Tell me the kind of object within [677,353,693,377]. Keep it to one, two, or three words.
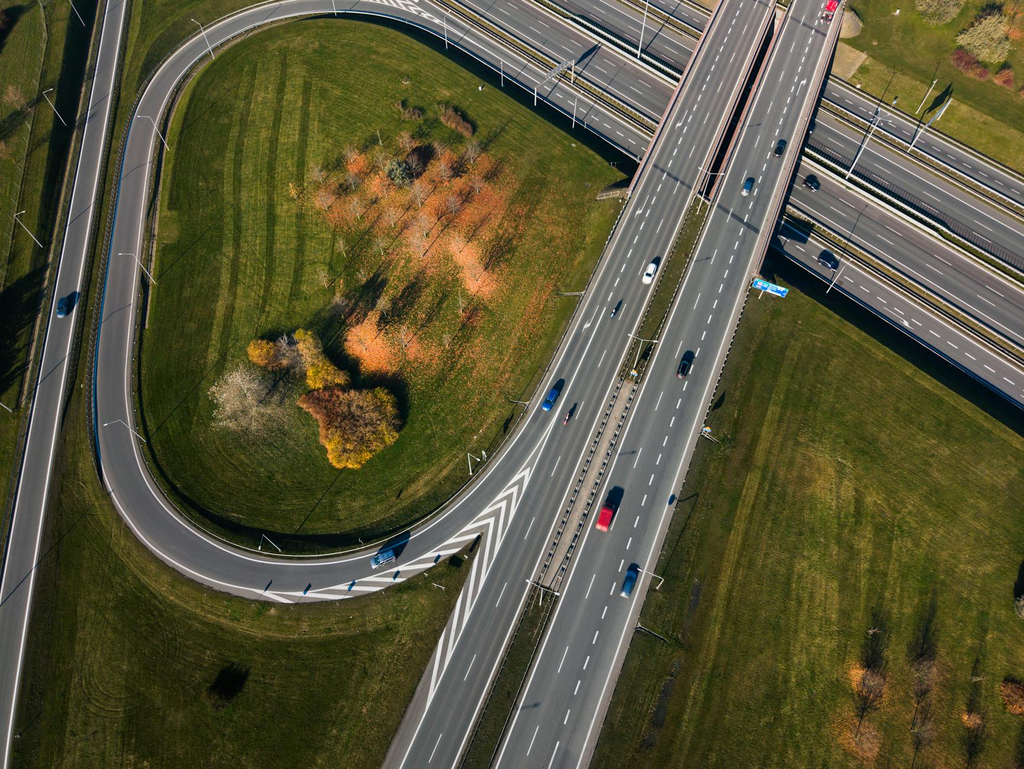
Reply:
car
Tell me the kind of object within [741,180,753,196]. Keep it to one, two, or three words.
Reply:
vehicle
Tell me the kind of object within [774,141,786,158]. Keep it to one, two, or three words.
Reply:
vehicle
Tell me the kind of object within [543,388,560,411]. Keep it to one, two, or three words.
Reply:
car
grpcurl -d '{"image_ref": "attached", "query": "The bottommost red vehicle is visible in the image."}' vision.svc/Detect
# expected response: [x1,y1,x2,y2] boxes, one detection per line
[594,500,615,533]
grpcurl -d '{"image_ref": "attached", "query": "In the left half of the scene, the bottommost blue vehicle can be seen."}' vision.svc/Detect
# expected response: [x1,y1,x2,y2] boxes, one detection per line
[369,548,399,569]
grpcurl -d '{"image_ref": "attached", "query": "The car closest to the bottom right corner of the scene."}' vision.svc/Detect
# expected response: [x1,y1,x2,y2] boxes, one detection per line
[620,566,639,596]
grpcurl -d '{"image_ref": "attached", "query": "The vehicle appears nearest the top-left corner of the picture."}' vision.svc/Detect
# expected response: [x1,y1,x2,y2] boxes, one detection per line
[55,298,68,316]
